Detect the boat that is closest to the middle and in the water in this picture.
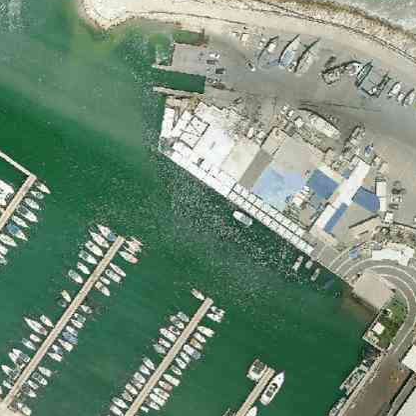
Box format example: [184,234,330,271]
[234,212,255,228]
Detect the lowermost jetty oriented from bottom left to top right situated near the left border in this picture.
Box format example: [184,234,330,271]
[3,236,124,405]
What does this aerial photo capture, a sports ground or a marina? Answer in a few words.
marina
